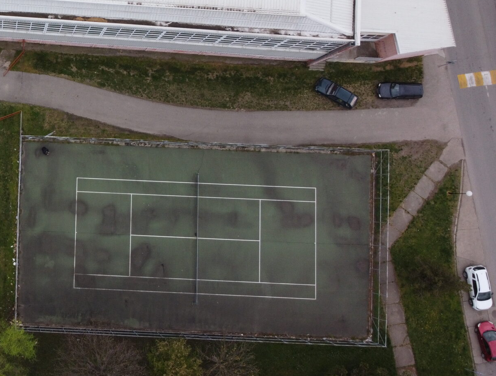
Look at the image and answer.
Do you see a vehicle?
Yes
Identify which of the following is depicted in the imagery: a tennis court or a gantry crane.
tennis court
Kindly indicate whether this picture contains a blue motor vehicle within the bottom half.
No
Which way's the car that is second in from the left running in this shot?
from side to side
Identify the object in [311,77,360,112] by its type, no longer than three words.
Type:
car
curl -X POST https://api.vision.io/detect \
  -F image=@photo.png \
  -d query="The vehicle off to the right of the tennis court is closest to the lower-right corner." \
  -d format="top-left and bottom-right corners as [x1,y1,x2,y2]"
[472,319,496,367]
